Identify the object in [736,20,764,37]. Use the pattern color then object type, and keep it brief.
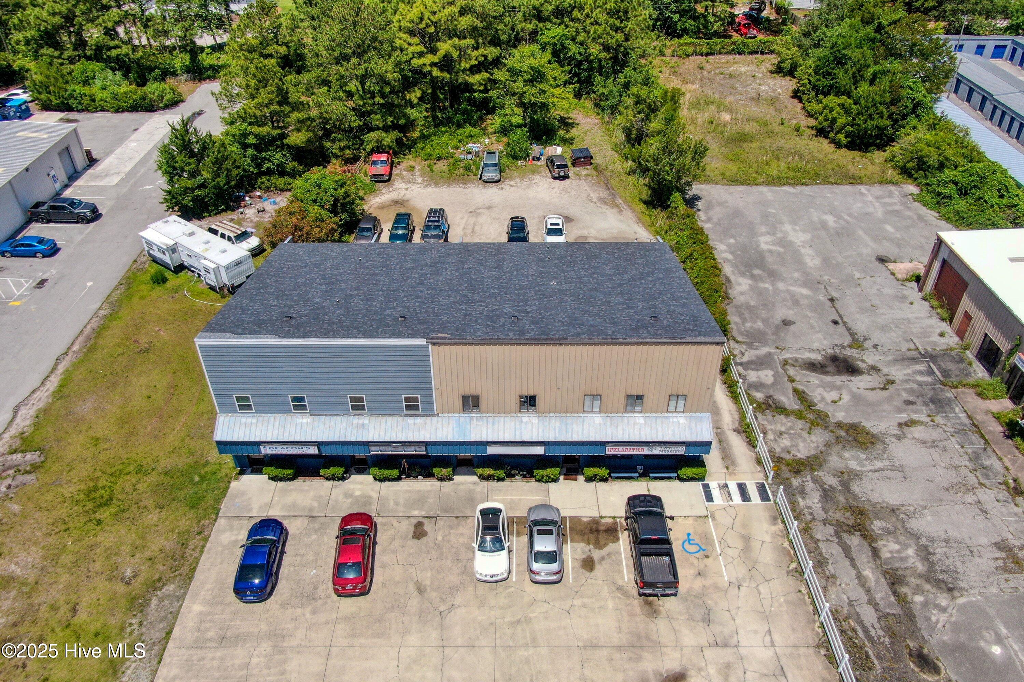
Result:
red vehicle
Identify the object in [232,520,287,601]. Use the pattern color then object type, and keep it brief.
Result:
blue car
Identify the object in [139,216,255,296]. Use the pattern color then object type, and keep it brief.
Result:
white camper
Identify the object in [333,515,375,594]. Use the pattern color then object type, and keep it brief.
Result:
red car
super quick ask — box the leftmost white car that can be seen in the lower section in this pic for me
[471,503,512,582]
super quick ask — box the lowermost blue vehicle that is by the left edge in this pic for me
[0,234,58,257]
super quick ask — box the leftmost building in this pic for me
[0,116,89,244]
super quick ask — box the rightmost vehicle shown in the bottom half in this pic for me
[624,496,680,599]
